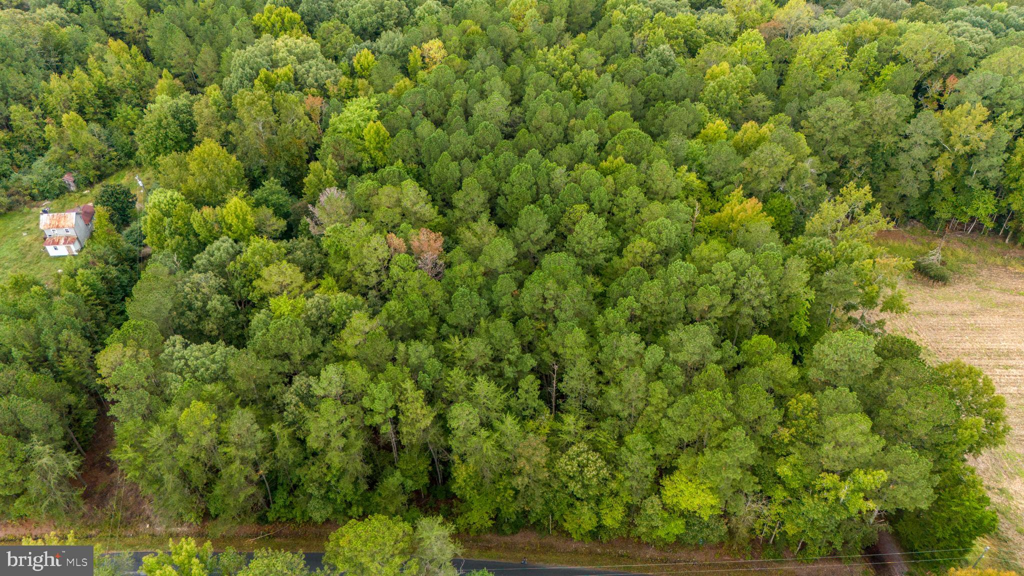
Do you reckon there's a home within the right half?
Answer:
No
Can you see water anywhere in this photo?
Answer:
No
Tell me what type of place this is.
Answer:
forest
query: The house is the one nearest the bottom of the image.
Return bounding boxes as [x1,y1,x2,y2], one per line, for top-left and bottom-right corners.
[42,202,100,258]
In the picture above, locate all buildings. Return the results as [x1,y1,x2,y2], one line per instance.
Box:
[55,176,80,195]
[42,202,100,258]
